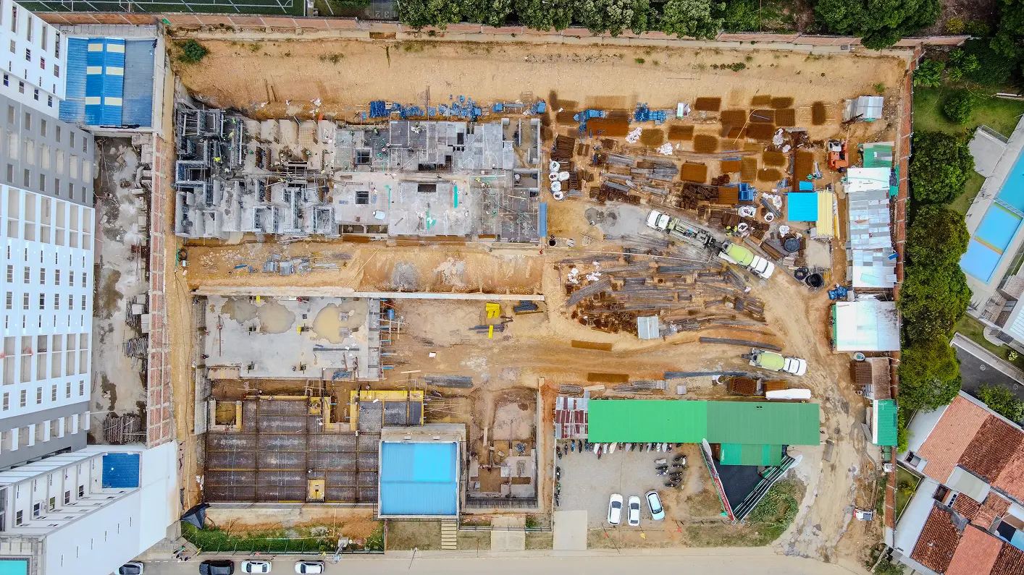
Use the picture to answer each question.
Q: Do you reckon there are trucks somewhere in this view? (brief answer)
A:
Yes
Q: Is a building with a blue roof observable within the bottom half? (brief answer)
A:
Yes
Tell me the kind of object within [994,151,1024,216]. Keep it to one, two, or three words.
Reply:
swimming pool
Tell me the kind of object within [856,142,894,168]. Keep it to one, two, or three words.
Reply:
shed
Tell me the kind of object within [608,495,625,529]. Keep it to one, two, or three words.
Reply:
car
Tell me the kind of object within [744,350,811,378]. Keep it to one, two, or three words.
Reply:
truck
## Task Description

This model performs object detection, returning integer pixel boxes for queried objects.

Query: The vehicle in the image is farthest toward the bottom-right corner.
[854,508,879,525]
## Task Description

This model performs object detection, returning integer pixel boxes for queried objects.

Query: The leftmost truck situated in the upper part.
[649,205,720,248]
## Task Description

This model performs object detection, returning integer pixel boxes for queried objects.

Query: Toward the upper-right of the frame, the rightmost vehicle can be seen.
[829,106,870,170]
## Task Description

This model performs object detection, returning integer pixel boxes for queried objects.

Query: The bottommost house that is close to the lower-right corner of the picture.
[892,477,1024,575]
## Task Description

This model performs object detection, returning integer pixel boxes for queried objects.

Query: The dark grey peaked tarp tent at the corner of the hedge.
[182,504,210,528]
